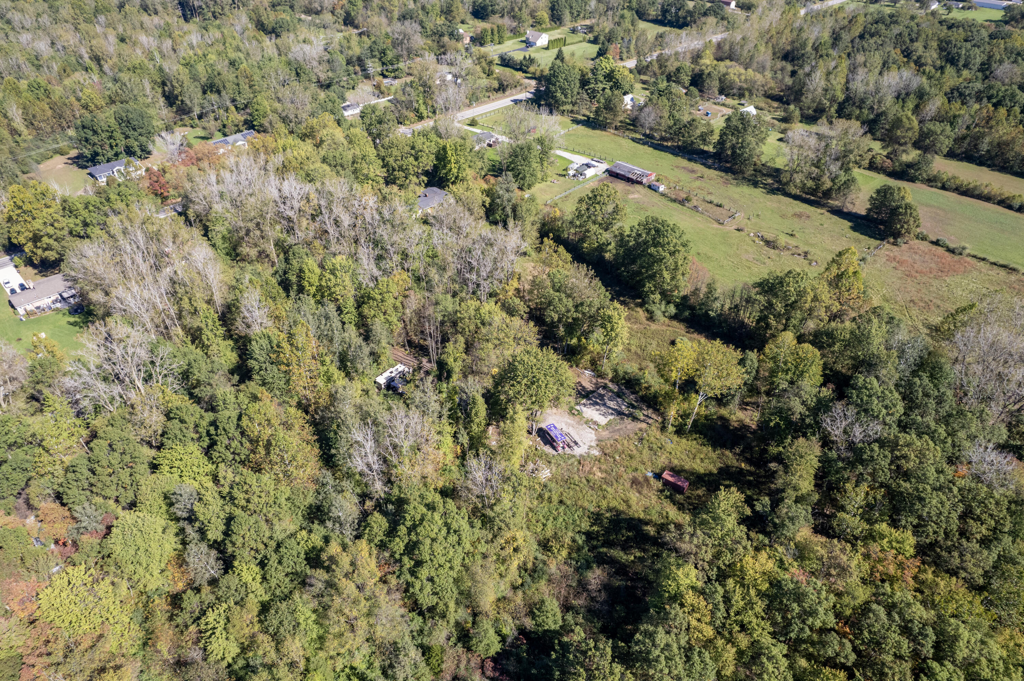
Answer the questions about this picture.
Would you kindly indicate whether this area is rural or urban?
rural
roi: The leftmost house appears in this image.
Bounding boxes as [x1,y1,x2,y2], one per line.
[9,273,77,314]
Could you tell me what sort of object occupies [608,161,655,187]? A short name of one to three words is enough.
barn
